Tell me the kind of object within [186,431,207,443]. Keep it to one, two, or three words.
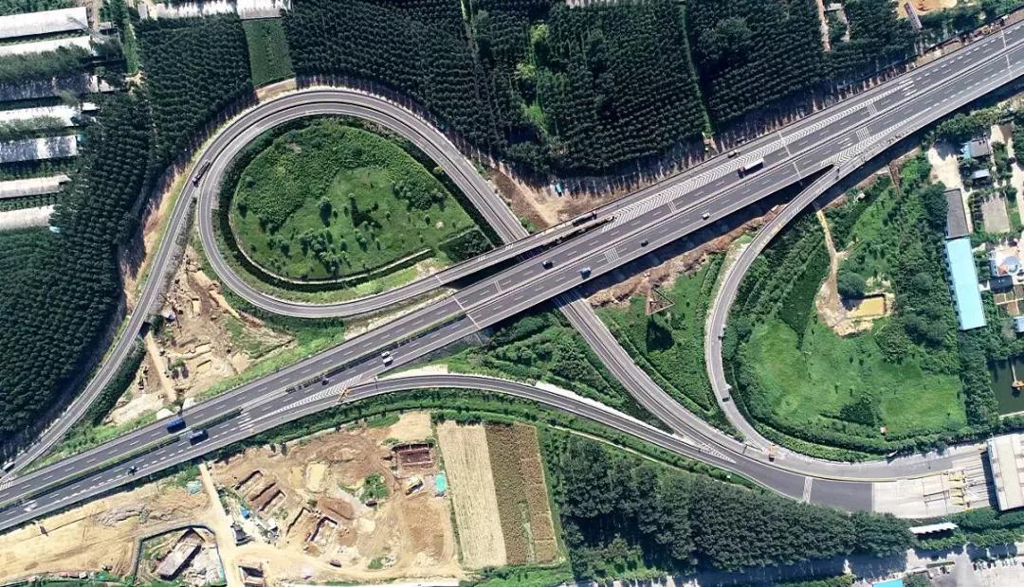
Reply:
vehicle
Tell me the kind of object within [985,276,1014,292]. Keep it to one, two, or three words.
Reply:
house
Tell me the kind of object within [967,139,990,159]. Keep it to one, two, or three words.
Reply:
house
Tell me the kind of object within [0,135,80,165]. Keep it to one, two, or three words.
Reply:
greenhouse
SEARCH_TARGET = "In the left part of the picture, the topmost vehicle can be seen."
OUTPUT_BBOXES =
[192,161,208,182]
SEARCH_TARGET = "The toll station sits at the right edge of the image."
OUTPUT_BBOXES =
[949,430,1024,513]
